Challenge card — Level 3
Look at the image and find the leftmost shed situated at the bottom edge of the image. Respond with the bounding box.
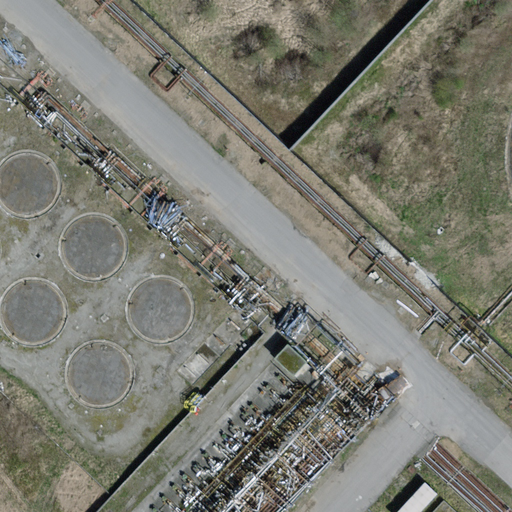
[401,484,438,512]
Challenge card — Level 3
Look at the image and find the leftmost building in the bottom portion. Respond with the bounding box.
[272,344,312,381]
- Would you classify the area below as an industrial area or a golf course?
industrial area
